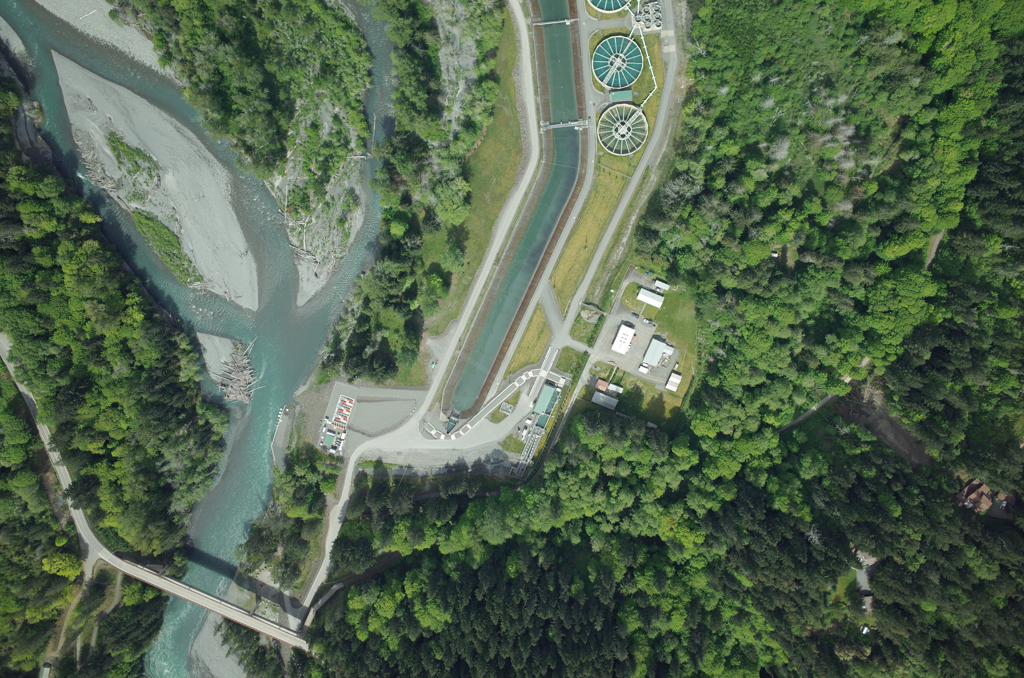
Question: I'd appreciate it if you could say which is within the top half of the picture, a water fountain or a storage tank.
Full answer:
Looking within the top half of the picture, you will find a storage tank.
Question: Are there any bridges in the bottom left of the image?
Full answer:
Yes, the scene does show a bridge in the bottom left of the image.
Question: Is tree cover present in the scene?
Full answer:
Yes, some tree cover is visible.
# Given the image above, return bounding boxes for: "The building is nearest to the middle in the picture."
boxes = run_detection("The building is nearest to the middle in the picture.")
[533,383,554,415]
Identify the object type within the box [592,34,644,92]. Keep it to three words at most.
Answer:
storage tank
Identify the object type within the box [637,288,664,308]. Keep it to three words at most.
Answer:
house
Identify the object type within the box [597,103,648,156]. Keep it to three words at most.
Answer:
storage tank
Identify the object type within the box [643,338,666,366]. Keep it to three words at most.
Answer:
building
